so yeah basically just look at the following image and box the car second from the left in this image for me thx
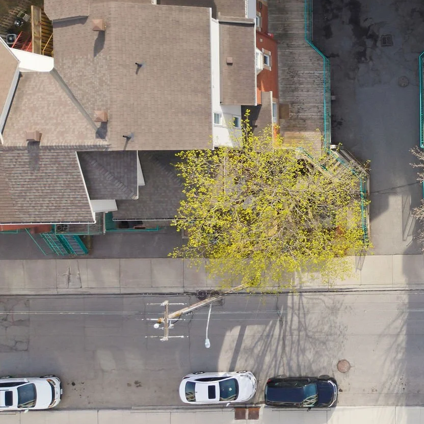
[180,370,260,409]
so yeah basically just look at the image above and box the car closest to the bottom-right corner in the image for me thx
[264,372,340,412]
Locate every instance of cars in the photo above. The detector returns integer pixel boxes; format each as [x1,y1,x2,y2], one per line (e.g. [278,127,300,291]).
[264,372,340,412]
[0,374,67,414]
[180,370,260,409]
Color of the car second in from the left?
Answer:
white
